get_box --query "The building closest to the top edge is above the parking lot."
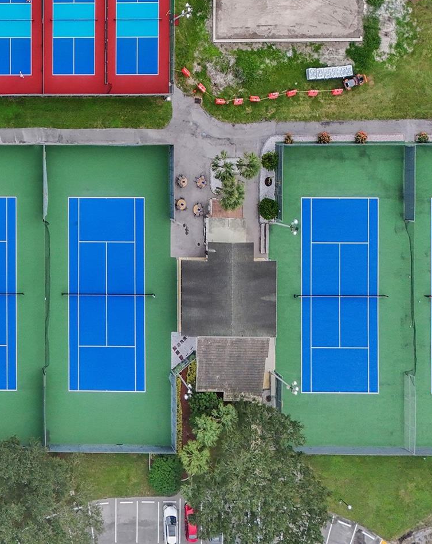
[175,243,277,339]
